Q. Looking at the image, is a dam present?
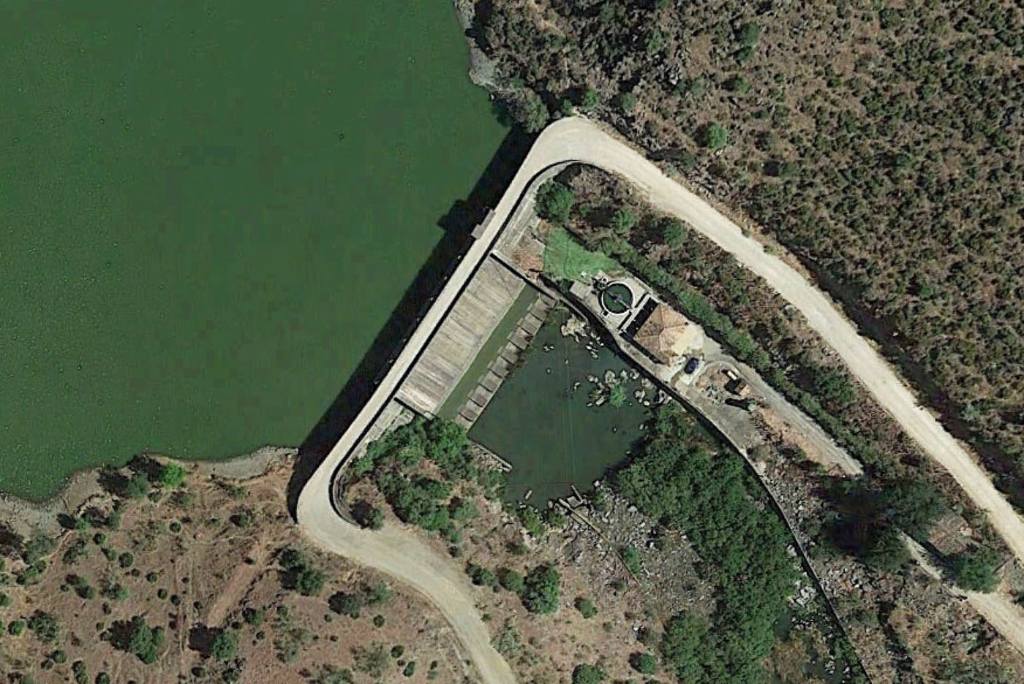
Yes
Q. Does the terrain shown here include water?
Yes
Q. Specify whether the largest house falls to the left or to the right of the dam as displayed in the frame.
to its right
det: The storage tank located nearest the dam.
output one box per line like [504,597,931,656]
[602,282,634,314]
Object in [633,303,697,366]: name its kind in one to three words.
house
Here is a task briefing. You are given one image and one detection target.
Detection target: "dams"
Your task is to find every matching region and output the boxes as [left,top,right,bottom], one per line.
[297,115,587,541]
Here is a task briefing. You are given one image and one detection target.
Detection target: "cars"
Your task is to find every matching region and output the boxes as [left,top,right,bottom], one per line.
[686,358,698,374]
